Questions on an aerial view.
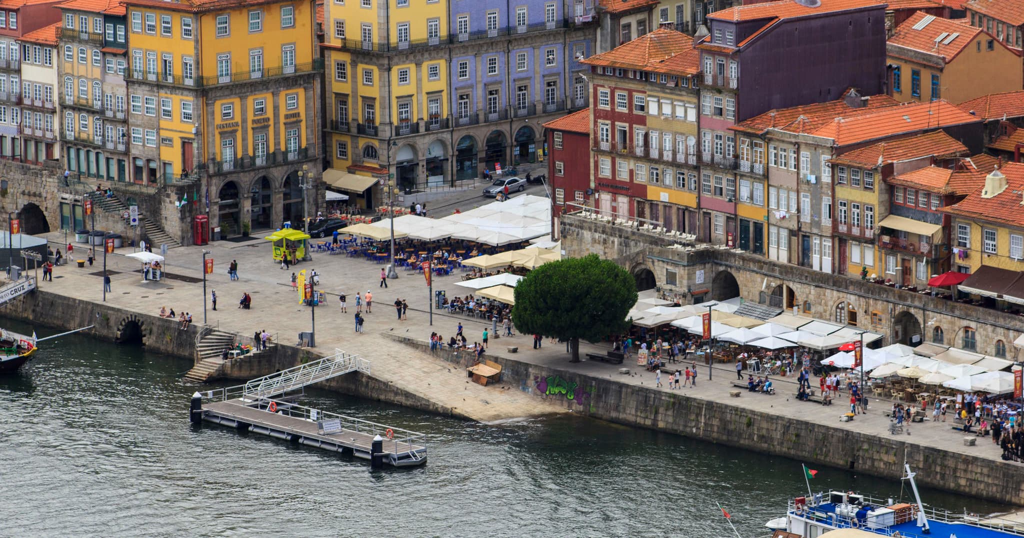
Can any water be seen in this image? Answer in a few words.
Yes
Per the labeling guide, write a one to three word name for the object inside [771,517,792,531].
boat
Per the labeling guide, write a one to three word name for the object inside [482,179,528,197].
car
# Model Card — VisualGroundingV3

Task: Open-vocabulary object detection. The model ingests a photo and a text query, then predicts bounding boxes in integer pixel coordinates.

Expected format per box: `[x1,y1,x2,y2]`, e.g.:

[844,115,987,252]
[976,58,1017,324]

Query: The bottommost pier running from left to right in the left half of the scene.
[202,388,429,466]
